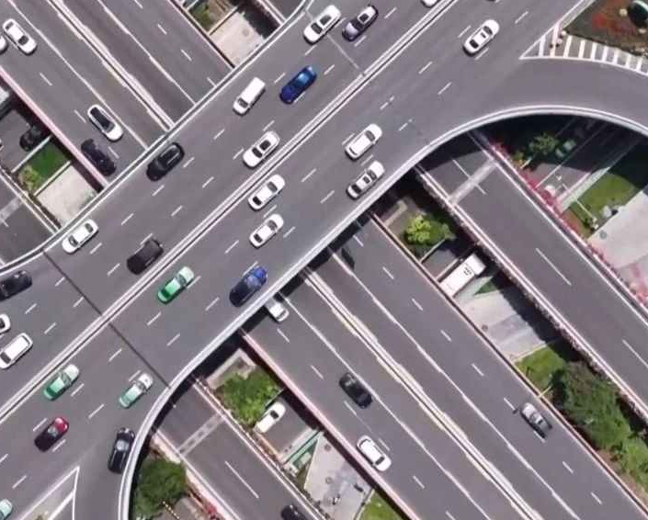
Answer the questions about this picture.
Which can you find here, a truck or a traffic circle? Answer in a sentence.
This aerial view contains a truck.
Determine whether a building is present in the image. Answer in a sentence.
No, the scene contains no building.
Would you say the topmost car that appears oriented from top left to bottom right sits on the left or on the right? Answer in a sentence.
You can find the topmost car that appears oriented from top left to bottom right on the left side of the picture.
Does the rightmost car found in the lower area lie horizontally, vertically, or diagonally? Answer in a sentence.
The rightmost car found in the lower area has been laid out diagonally relative to the frame.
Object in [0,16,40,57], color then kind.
white car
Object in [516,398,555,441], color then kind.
gray car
